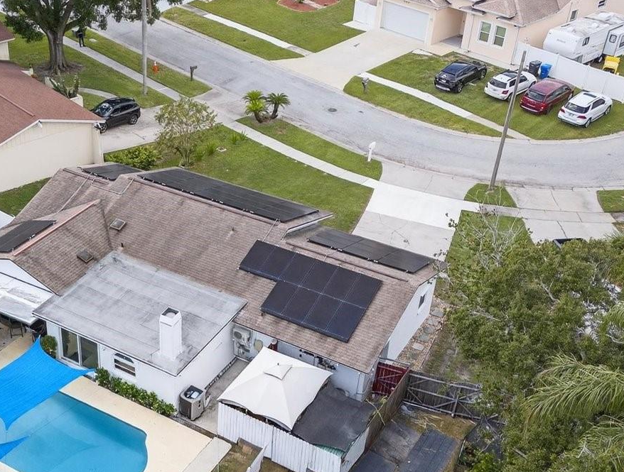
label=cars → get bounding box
[88,93,148,132]
[526,77,574,111]
[440,60,484,91]
[564,91,612,124]
[490,66,535,97]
